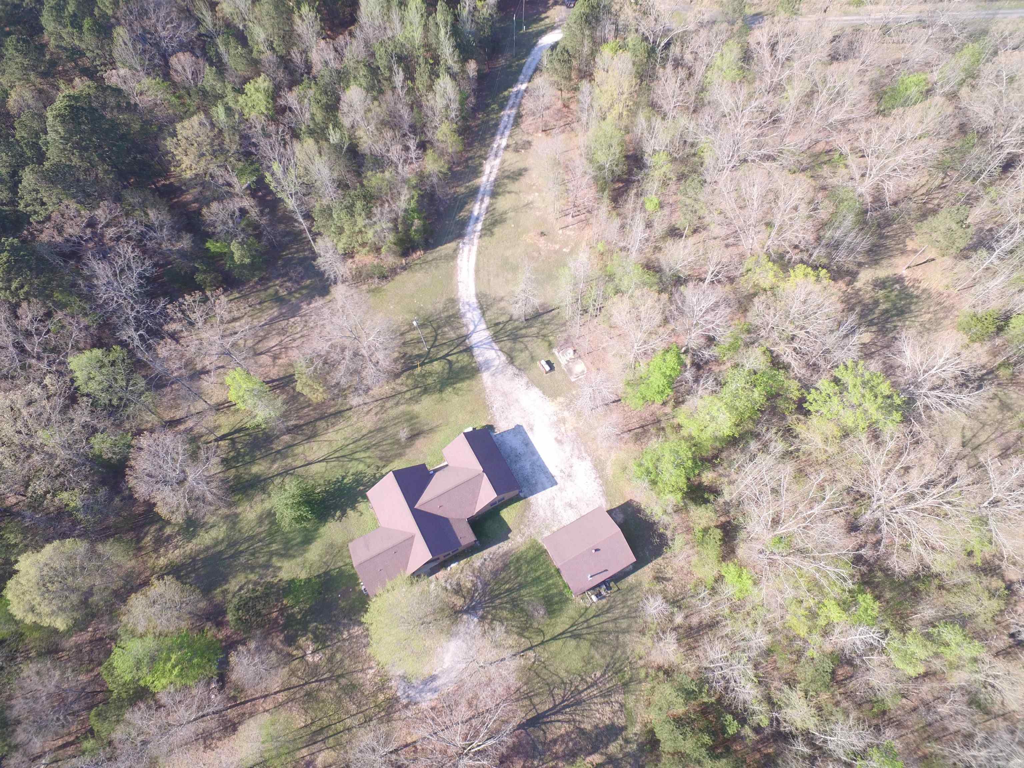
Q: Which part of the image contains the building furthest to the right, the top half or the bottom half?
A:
bottom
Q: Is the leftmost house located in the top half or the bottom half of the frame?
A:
bottom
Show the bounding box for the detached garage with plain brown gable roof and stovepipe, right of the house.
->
[542,506,637,597]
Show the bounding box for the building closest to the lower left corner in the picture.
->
[349,425,521,597]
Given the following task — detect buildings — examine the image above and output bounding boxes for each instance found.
[349,425,521,597]
[542,506,637,597]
